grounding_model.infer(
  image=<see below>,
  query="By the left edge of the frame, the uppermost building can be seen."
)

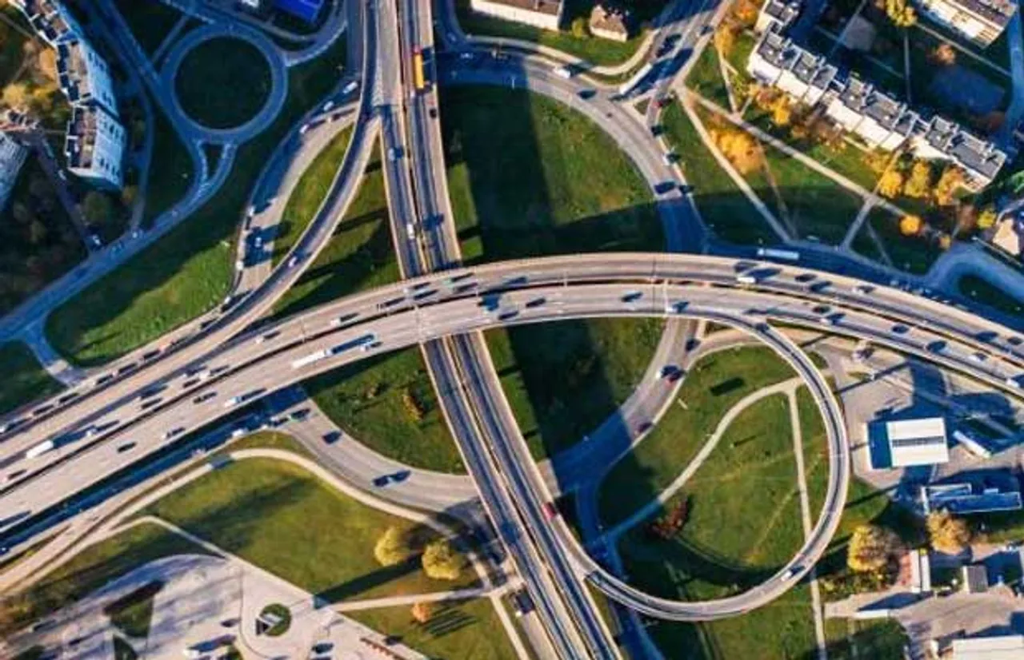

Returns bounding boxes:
[7,0,105,56]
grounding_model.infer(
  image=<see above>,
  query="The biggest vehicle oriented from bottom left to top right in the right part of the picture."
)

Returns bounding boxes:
[620,62,653,92]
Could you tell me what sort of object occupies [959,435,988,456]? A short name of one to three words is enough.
bus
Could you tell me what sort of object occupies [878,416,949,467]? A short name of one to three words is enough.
building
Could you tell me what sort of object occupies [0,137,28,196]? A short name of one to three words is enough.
building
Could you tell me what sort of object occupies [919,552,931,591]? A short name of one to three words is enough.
shed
